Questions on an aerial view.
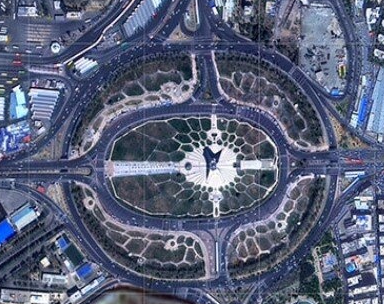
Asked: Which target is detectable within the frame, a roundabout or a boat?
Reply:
roundabout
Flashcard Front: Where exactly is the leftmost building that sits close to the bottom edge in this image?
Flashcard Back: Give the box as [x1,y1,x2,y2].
[1,289,28,304]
